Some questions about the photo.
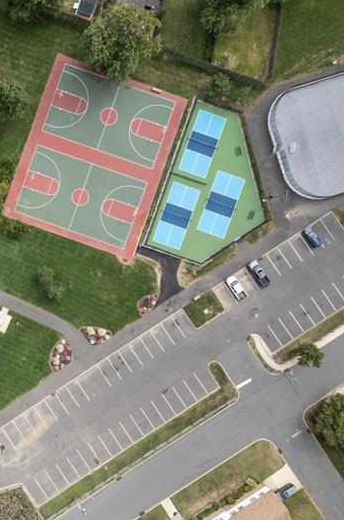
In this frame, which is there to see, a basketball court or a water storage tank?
basketball court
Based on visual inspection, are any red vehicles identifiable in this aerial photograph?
No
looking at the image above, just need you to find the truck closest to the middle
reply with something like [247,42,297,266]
[225,274,248,301]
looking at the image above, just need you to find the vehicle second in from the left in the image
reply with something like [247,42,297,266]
[247,260,270,287]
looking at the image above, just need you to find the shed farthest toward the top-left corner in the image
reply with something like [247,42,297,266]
[74,0,97,20]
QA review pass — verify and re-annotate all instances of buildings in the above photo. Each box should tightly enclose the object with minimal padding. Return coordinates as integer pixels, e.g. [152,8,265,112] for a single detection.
[267,69,344,200]
[74,0,97,20]
[213,487,290,520]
